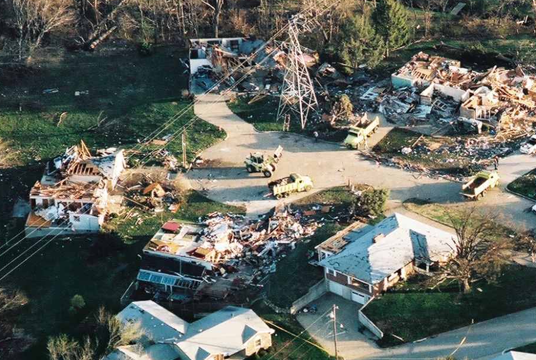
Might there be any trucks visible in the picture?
Yes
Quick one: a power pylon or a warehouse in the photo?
power pylon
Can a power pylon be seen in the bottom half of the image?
No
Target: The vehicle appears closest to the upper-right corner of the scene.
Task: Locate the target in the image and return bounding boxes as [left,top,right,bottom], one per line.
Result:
[520,133,536,154]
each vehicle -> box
[239,144,291,176]
[520,133,536,154]
[263,169,316,197]
[459,168,501,199]
[341,115,381,149]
